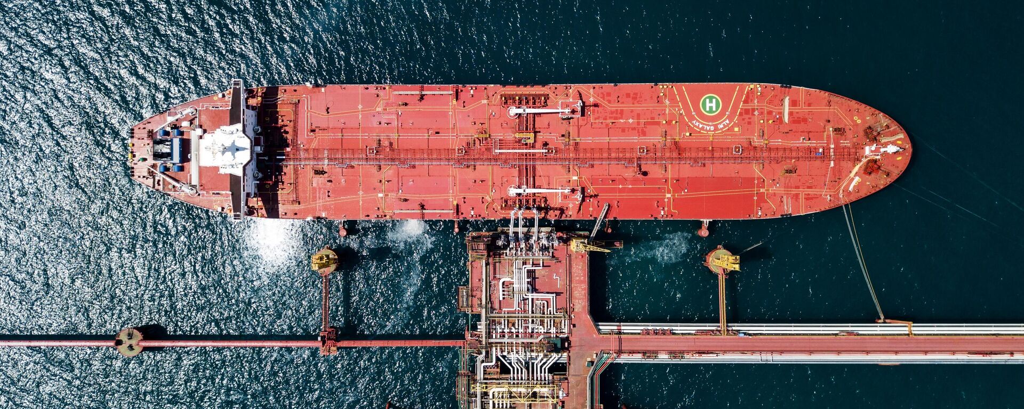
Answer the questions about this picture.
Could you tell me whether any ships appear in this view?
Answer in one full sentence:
Yes, a ship appears in the view.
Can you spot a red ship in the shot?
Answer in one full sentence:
Yes, the frame does contain a red ship.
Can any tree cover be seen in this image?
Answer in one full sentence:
No, the scene doesn't show any tree cover.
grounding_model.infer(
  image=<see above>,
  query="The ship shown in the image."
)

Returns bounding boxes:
[128,78,913,220]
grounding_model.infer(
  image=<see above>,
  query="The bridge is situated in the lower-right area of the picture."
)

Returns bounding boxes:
[598,323,1024,365]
